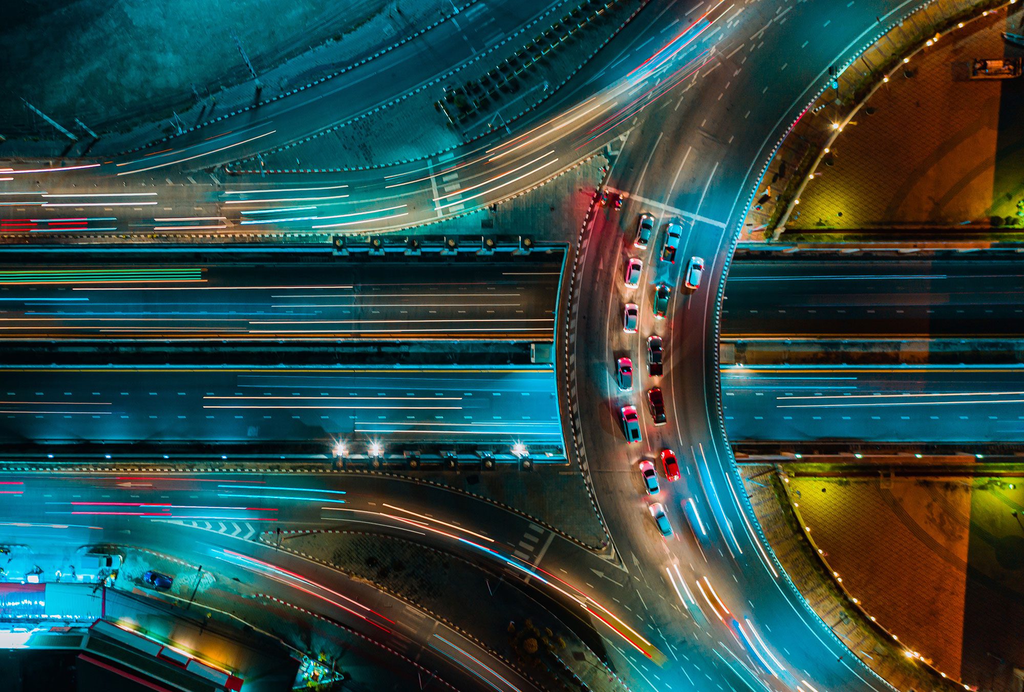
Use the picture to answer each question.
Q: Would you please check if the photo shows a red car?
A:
Yes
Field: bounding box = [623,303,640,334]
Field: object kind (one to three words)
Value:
car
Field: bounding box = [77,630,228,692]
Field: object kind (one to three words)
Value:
building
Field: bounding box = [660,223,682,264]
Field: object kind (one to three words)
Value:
truck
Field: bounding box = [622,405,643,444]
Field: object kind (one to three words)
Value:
vehicle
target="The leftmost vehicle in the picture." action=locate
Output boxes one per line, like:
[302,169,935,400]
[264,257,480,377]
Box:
[79,553,124,571]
